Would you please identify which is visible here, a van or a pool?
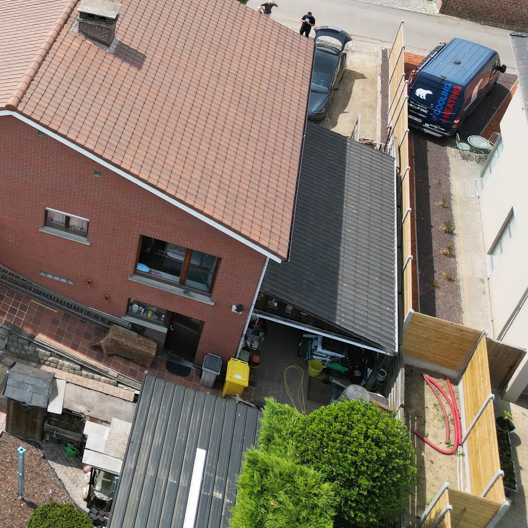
van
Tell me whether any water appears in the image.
No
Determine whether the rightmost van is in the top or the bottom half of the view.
top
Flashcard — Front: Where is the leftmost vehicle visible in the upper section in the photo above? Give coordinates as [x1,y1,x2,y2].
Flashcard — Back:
[308,22,366,118]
